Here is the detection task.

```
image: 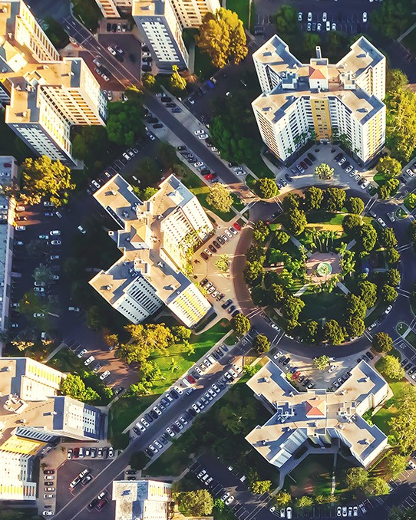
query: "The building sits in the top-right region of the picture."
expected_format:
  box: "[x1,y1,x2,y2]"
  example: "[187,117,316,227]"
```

[251,36,386,164]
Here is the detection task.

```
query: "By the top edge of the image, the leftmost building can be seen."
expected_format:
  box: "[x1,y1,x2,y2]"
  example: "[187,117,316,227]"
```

[0,1,107,161]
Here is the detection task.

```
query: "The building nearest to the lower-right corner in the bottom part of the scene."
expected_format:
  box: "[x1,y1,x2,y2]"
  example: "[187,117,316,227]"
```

[244,361,388,467]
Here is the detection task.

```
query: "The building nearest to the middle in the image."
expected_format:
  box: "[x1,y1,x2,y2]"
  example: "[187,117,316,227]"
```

[90,173,210,325]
